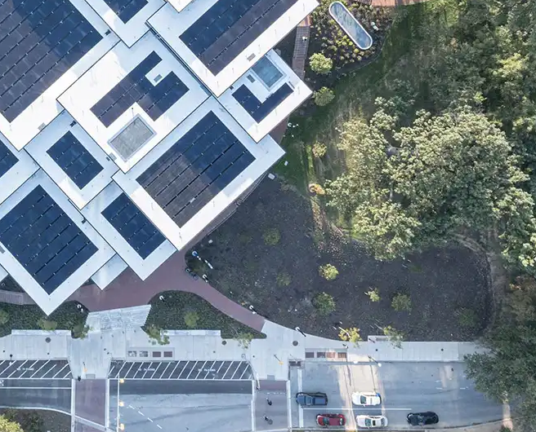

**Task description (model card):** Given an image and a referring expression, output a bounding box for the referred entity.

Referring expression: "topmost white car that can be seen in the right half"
[351,391,382,407]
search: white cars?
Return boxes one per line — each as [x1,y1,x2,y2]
[354,414,388,430]
[351,391,382,407]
